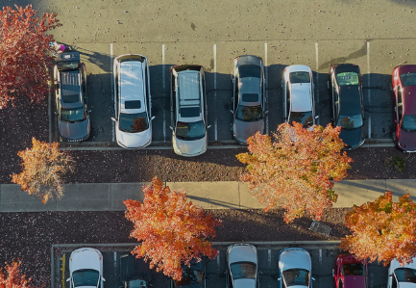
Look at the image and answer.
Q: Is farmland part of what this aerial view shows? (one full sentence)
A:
No, farmland can't be seen anywhere here.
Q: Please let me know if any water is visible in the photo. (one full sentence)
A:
No, water can't be seen anywhere here.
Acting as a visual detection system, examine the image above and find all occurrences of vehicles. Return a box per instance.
[282,64,319,150]
[331,252,370,288]
[390,63,416,154]
[277,246,317,288]
[168,64,210,158]
[224,243,263,288]
[167,248,211,288]
[230,54,269,146]
[327,62,370,151]
[112,53,154,149]
[65,246,106,288]
[53,49,94,143]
